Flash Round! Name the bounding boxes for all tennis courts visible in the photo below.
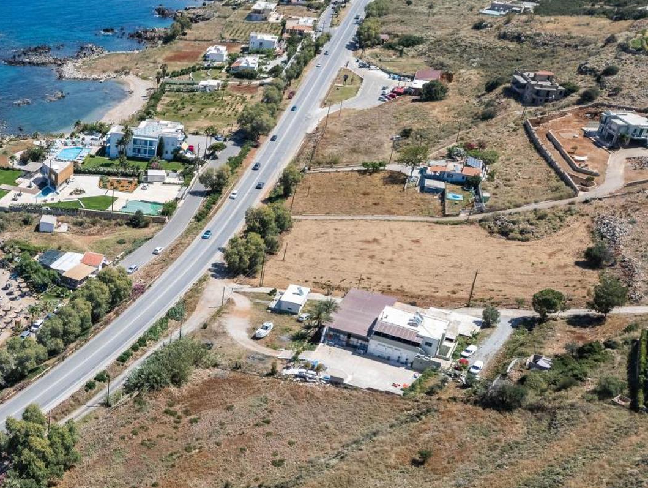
[121,200,161,215]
